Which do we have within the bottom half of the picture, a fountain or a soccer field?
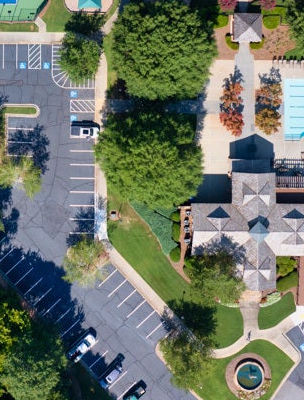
fountain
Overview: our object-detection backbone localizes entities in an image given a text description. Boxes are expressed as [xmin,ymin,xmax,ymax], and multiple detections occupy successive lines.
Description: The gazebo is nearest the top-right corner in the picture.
[230,13,262,42]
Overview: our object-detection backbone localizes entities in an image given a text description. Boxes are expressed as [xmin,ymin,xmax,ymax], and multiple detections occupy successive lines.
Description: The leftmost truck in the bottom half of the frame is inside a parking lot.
[69,334,95,363]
